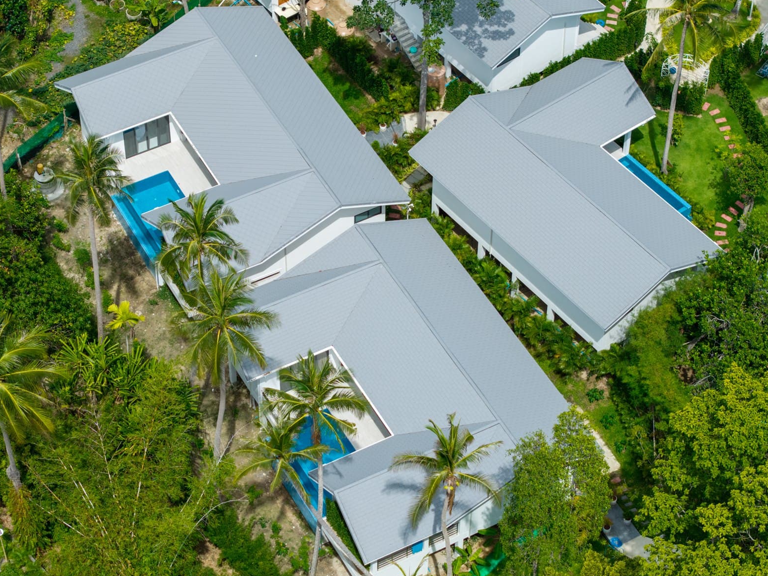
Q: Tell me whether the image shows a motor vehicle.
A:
No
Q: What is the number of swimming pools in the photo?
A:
3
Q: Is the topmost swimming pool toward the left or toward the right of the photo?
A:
right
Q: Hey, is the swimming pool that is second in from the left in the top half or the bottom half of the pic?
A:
bottom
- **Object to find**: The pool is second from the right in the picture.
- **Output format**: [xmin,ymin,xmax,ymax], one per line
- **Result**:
[268,408,358,553]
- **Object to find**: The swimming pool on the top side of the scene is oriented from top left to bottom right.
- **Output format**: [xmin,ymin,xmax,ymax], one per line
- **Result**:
[618,155,694,222]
